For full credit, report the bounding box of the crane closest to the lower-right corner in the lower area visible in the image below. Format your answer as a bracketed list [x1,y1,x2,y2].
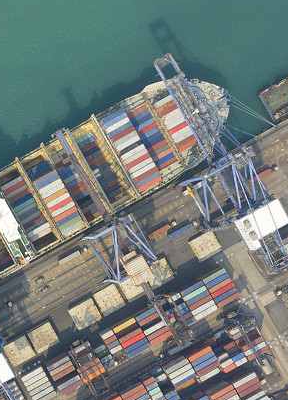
[216,308,279,370]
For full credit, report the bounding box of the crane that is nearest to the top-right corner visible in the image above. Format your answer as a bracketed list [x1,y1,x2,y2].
[150,49,288,263]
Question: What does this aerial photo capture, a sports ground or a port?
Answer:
port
